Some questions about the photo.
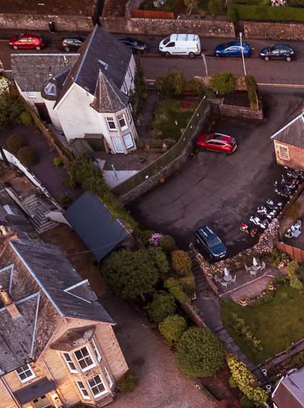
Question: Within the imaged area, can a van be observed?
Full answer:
Yes, there is a van in the image.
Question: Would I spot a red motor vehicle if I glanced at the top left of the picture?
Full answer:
Yes, a red motor vehicle can be seen at the top left of the picture.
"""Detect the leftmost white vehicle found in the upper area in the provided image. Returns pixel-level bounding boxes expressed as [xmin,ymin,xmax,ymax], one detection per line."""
[157,32,205,60]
